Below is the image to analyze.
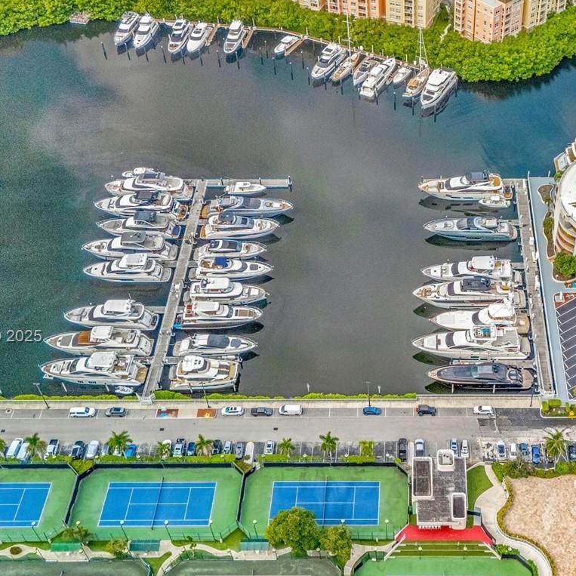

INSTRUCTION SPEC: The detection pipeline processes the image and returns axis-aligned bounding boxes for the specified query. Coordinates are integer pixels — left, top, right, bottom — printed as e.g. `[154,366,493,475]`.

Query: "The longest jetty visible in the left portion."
[135,176,292,390]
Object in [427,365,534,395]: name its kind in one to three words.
boat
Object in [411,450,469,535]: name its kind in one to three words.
building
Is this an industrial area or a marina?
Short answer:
marina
